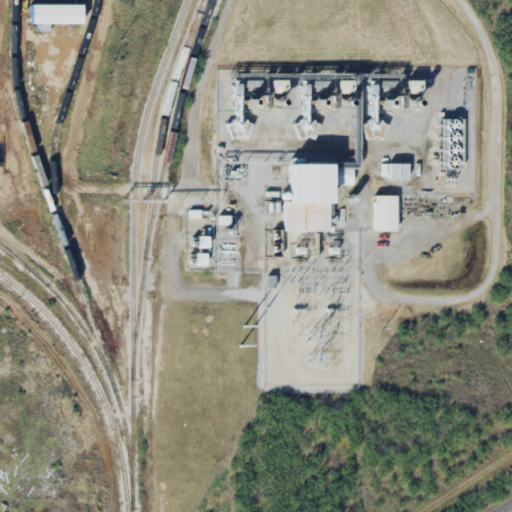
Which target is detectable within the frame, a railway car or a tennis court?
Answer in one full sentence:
I can see a railway car in this picture.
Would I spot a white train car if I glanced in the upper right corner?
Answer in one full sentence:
No, no white train car is visible in the upper right corner.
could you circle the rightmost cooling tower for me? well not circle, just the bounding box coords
[436,118,468,171]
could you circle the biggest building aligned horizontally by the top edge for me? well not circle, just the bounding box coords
[31,4,86,26]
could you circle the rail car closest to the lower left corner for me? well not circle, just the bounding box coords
[63,248,81,281]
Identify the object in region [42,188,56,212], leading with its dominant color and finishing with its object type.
white rail car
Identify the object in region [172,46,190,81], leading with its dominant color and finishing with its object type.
white rail car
